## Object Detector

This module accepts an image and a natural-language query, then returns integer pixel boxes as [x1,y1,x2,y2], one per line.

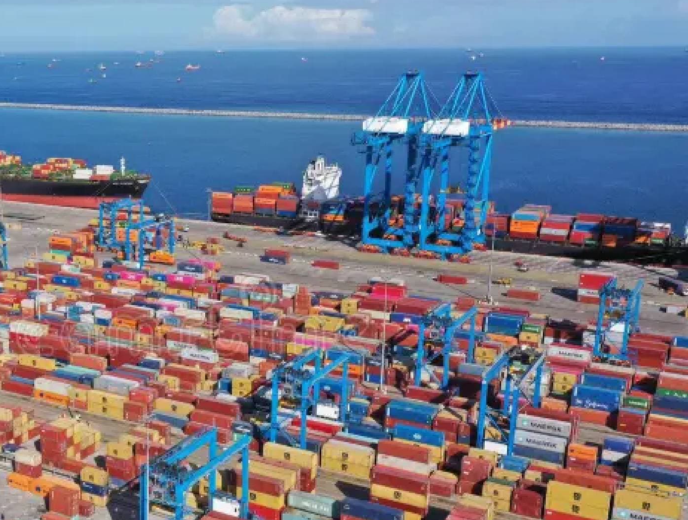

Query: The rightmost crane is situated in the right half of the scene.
[582,272,644,356]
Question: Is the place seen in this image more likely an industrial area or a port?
port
